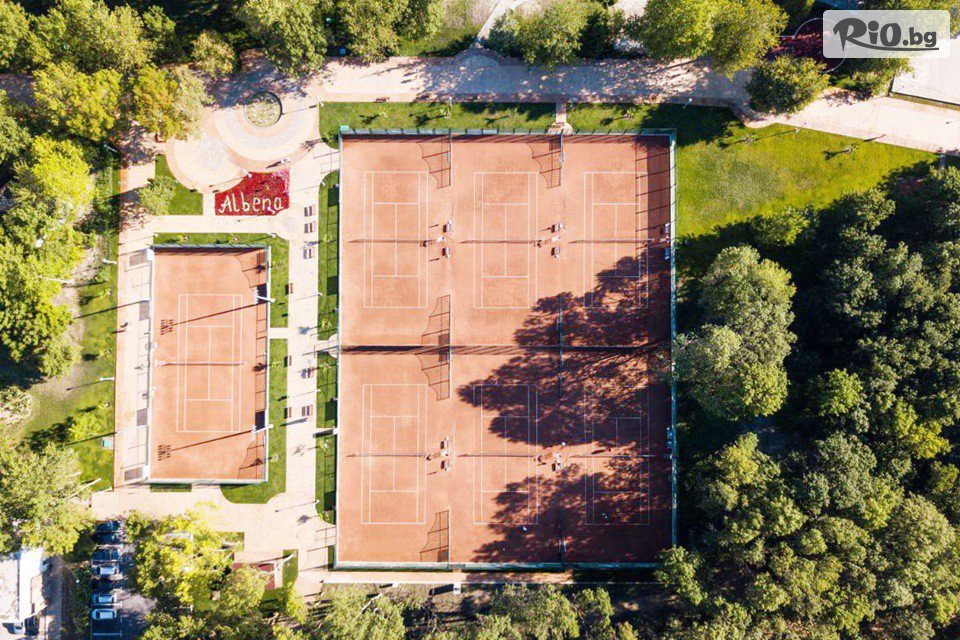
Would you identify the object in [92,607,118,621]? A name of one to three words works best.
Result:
car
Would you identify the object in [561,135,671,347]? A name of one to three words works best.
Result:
tennis court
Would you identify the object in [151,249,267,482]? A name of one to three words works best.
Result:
tennis court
